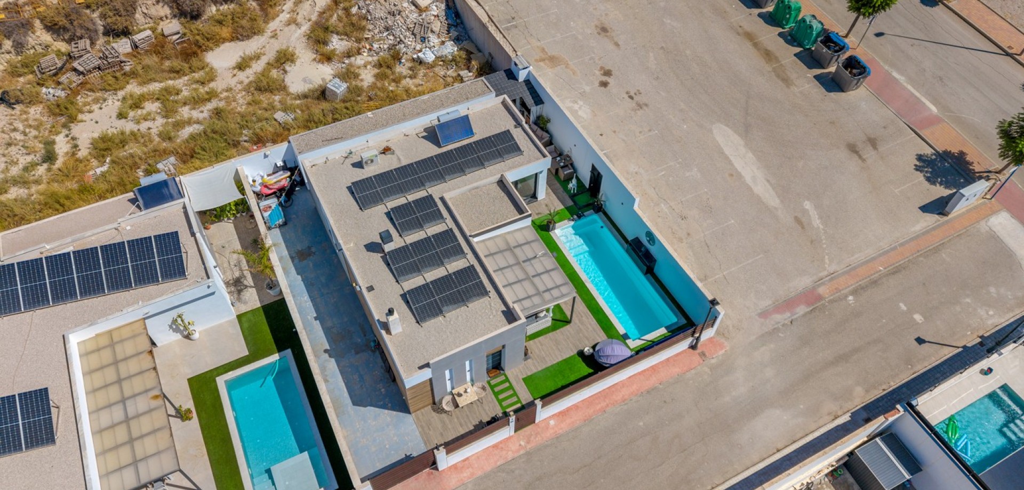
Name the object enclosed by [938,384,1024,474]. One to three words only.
swimming pool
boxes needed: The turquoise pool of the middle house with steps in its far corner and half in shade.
[547,209,687,349]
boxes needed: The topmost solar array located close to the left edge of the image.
[0,230,189,318]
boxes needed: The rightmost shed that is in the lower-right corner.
[845,432,924,490]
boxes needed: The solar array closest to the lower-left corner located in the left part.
[0,386,64,459]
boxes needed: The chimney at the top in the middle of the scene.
[509,53,531,80]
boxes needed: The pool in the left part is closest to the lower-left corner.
[214,349,341,490]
